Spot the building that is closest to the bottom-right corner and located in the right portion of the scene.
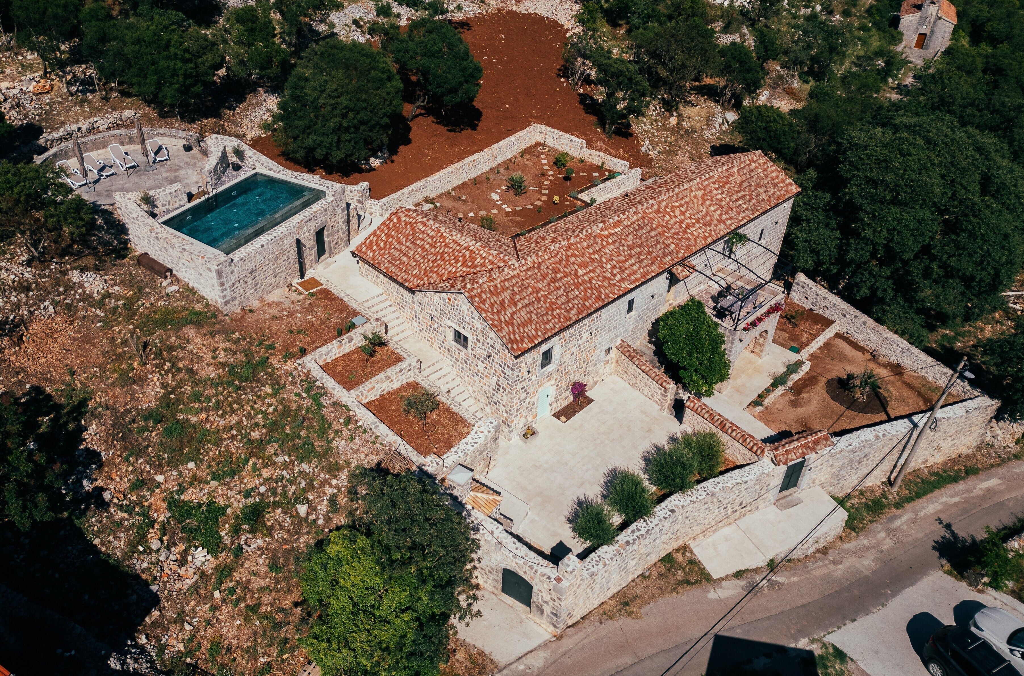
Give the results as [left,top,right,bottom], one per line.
[767,436,829,511]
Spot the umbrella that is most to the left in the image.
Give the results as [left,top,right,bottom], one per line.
[76,144,95,191]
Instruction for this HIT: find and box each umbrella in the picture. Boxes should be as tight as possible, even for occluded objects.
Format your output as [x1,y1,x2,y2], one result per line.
[139,125,156,169]
[76,144,95,191]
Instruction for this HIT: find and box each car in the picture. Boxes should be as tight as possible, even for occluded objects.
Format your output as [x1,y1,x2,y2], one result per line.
[971,613,1024,676]
[933,624,1023,676]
